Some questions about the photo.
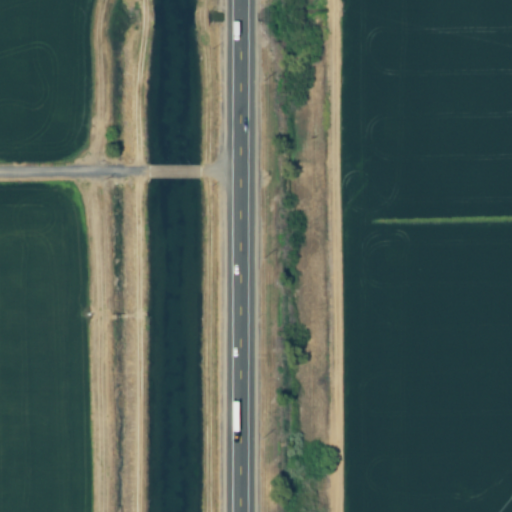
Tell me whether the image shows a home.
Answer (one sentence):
No, there is no home in the image.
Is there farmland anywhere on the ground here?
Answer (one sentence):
Yes, there is farmland in the image.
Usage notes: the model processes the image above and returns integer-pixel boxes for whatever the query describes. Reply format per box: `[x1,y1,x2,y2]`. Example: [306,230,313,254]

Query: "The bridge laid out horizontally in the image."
[148,164,204,178]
